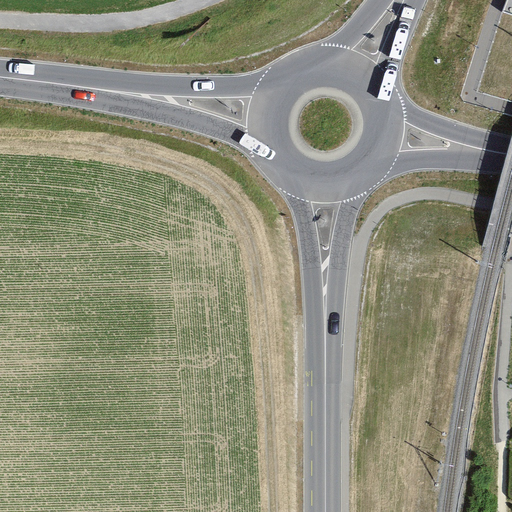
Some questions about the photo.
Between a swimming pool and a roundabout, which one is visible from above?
roundabout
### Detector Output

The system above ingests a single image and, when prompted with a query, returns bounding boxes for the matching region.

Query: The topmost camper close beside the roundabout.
[390,20,410,60]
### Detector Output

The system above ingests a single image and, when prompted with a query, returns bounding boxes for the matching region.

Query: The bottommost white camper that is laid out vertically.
[378,62,399,101]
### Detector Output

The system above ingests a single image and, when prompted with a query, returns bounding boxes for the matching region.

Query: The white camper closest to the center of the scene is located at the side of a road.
[240,133,276,160]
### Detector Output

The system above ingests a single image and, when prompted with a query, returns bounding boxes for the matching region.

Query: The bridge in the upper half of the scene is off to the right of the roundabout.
[482,130,512,248]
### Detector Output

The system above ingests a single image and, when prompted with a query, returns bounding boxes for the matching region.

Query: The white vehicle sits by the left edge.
[8,62,36,74]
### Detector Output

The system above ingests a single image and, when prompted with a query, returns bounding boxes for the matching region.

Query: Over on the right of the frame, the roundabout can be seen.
[246,44,406,202]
